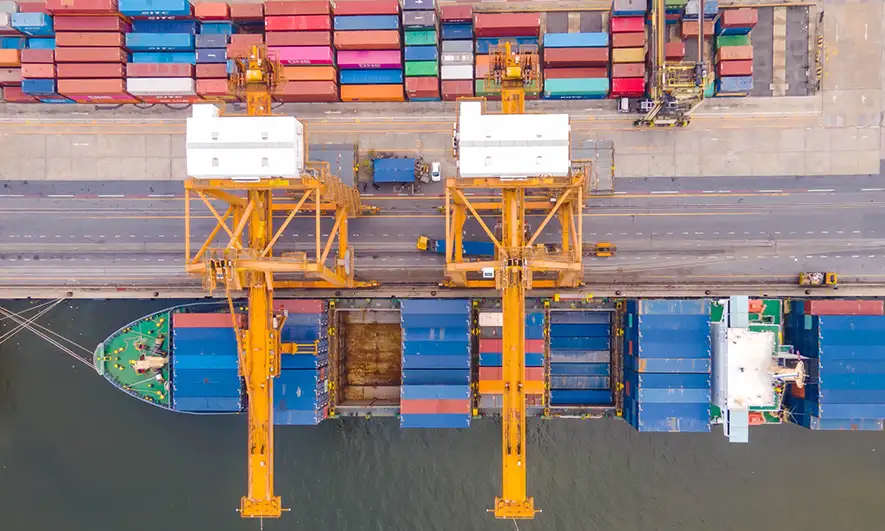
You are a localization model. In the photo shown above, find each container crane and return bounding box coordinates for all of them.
[181,38,380,530]
[636,0,710,126]
[436,35,596,531]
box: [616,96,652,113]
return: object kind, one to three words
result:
vehicle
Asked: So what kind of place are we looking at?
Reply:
port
